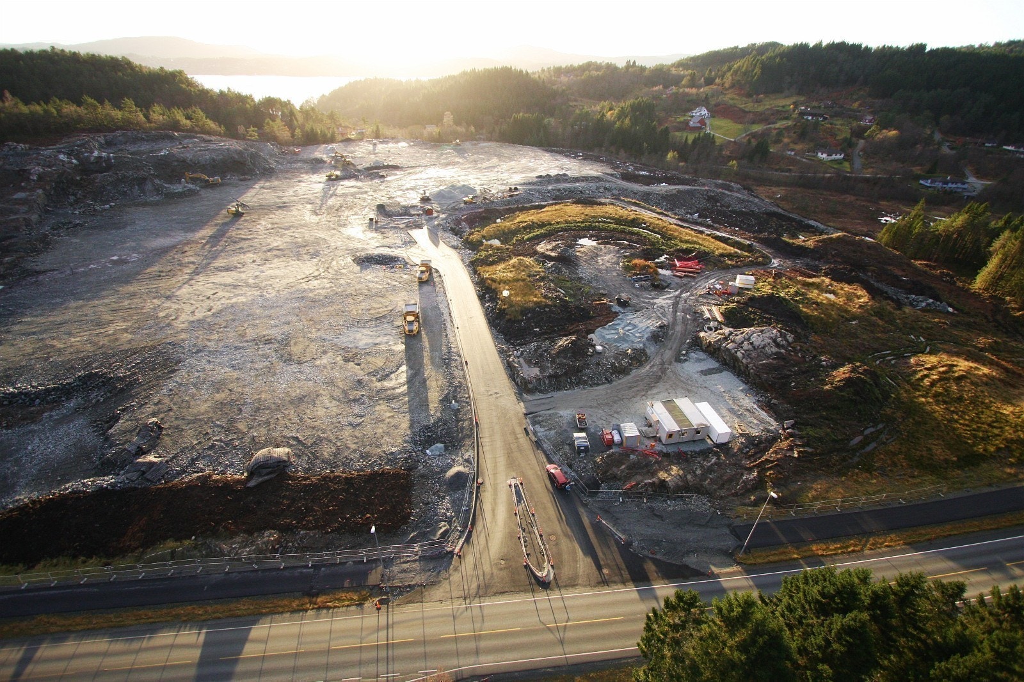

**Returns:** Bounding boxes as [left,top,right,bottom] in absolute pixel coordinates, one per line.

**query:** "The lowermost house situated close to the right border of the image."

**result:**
[920,176,980,192]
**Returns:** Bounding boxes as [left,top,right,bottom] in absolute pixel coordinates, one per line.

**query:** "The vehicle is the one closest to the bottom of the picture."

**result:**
[546,469,573,497]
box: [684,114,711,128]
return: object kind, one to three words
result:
barn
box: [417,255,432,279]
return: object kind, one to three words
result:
vehicle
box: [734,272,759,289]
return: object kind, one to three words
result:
shed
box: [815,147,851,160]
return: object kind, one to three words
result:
house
